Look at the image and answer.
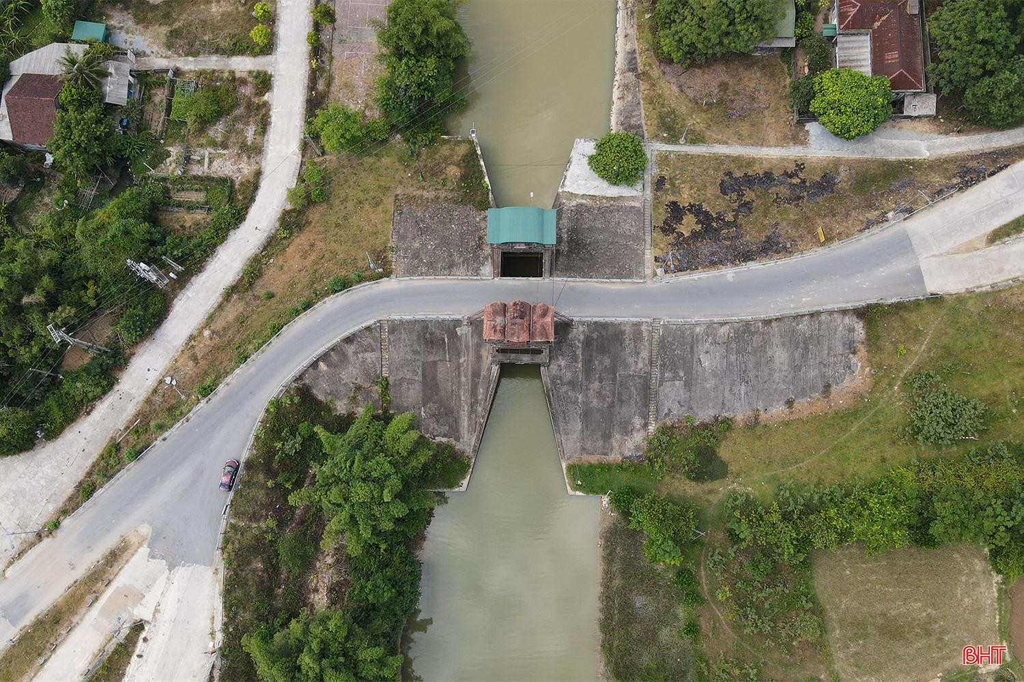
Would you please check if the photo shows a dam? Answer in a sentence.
Yes, there is a dam in the image.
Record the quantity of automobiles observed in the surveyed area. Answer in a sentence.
I count just 1 automobile.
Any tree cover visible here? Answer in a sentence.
Yes, some tree cover is visible.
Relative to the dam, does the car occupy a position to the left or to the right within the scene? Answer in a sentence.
You can see the car positioned to the left of the dam.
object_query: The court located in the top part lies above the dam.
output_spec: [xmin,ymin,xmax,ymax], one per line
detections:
[329,0,389,104]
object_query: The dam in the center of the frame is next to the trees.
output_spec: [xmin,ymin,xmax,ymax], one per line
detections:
[280,128,864,496]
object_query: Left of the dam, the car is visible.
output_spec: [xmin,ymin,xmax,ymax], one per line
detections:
[216,457,237,493]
